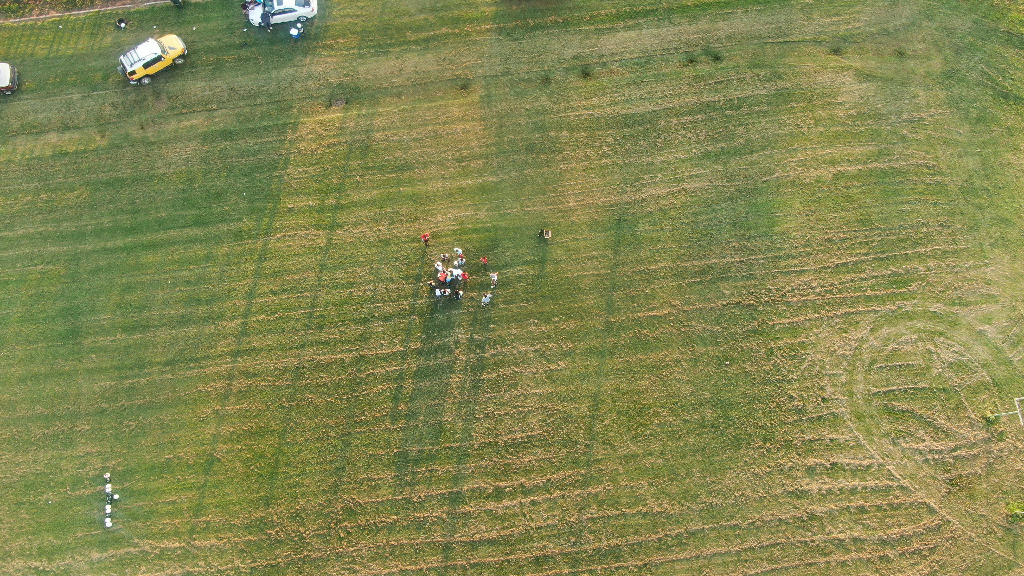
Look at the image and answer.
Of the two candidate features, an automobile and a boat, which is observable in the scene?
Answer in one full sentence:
There is an automobile in the scene.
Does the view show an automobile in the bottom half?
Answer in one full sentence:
No, in the bottom half there is no automobile.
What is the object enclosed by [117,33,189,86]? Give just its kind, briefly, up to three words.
car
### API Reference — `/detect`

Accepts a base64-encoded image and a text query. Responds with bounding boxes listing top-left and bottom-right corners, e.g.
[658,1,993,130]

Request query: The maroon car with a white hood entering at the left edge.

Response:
[0,65,20,96]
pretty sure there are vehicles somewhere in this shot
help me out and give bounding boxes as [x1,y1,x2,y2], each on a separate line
[0,65,20,96]
[117,33,189,86]
[246,0,317,27]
